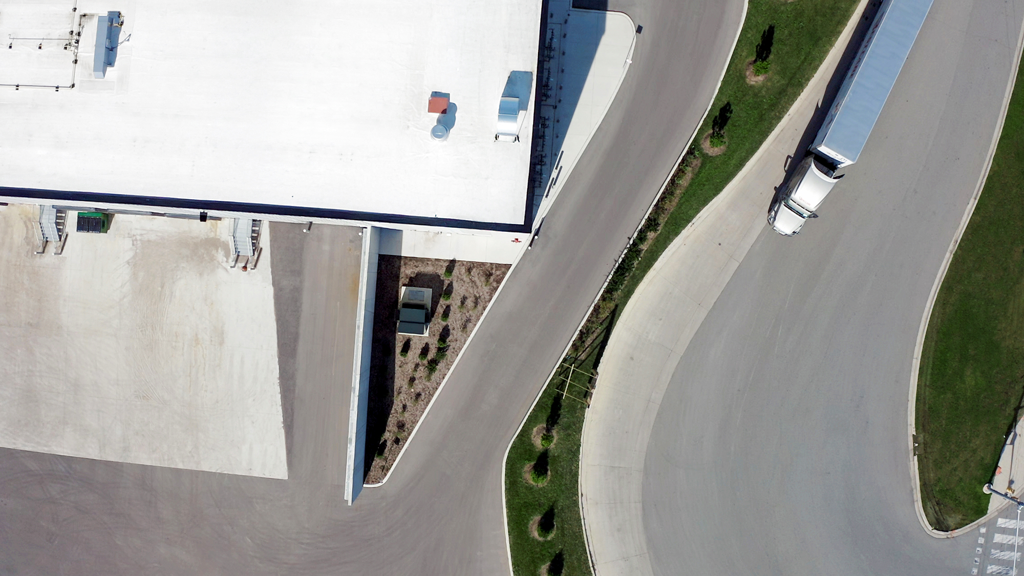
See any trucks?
Yes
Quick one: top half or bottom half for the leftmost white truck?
top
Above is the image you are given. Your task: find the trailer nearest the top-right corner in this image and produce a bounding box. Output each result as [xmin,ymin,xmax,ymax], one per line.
[807,0,936,168]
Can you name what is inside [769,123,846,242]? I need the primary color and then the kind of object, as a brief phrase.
white truck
